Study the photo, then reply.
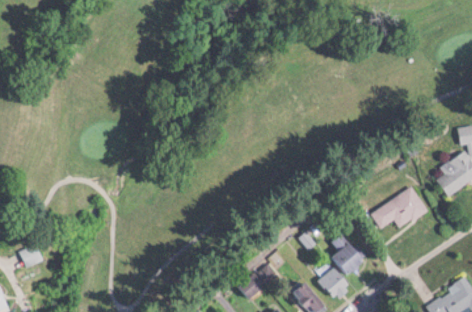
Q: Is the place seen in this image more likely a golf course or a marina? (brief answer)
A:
golf course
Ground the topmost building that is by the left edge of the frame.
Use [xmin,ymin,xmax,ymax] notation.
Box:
[18,246,43,269]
